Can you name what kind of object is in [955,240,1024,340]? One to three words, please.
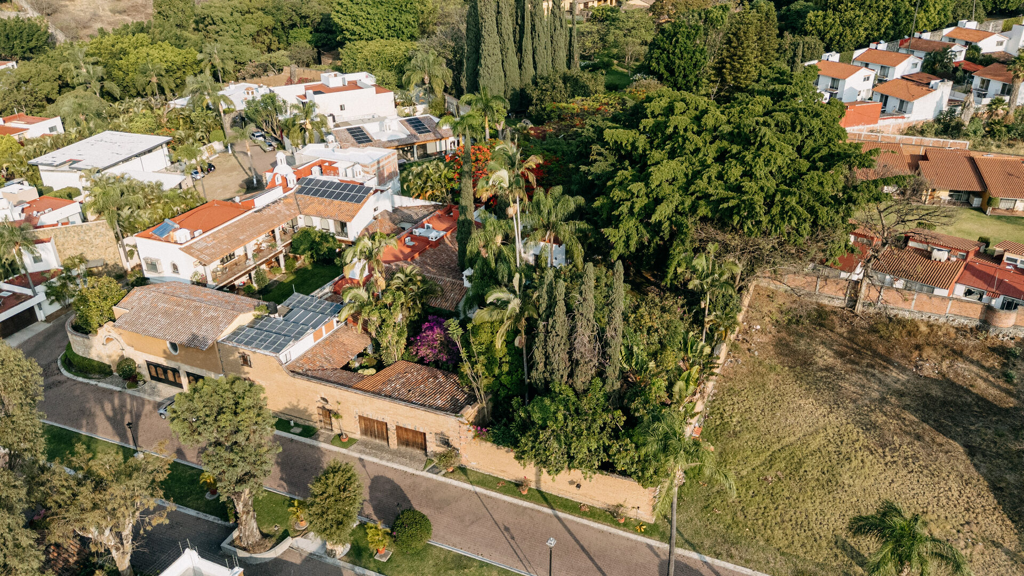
house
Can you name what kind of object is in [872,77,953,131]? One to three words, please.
house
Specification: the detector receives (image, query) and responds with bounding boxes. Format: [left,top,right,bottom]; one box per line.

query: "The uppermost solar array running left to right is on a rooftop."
[298,176,372,204]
